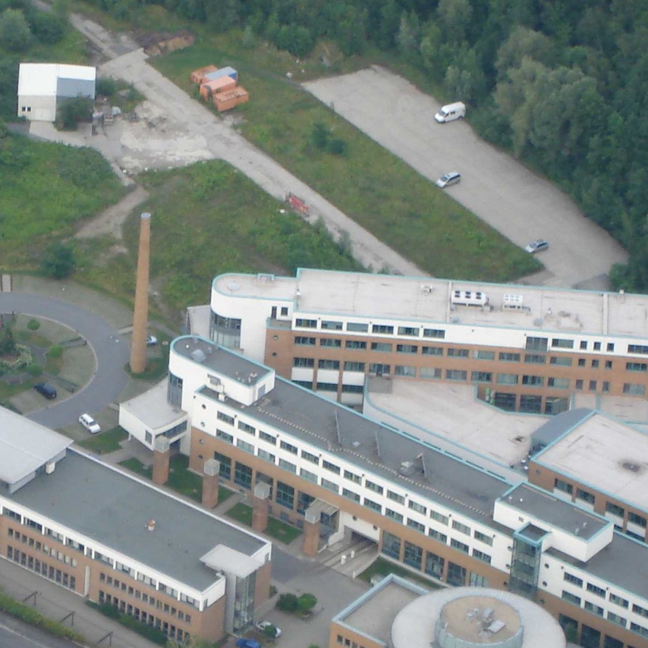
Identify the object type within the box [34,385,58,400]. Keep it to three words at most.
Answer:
car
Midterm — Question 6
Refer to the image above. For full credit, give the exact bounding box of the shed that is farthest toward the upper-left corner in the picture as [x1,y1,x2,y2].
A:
[20,64,101,123]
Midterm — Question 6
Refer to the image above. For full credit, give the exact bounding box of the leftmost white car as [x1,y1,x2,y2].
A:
[80,415,100,434]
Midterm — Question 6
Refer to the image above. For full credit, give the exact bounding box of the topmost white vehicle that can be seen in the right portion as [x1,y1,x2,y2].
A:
[437,102,464,122]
